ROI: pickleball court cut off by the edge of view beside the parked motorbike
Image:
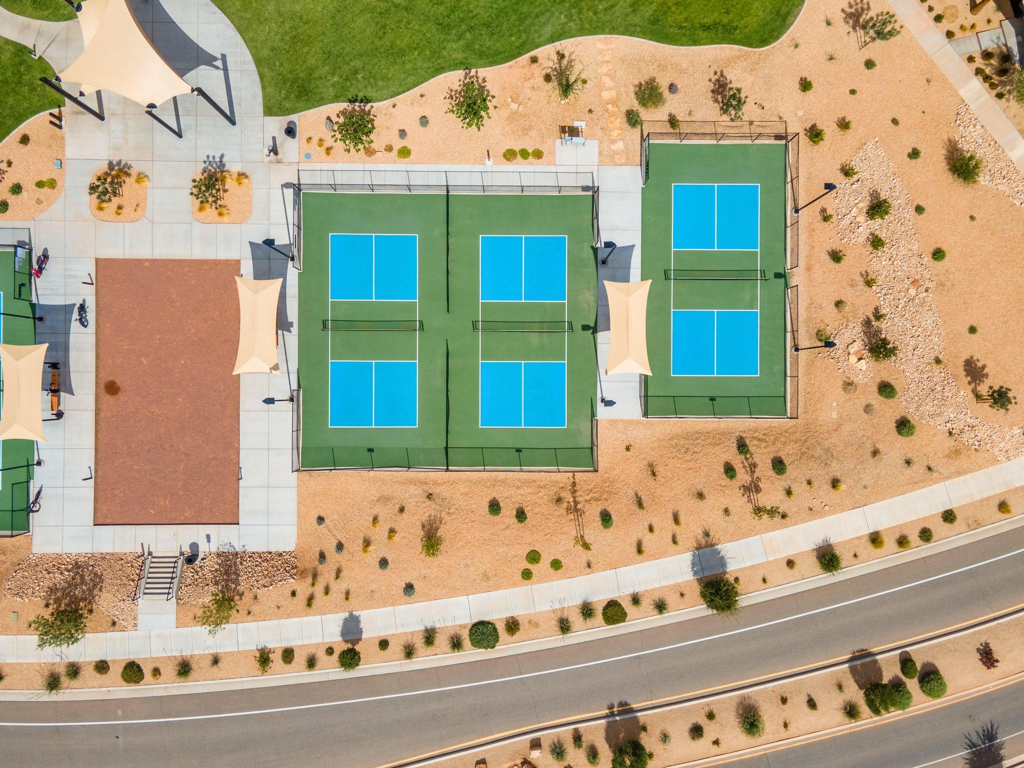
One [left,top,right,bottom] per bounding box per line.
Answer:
[0,249,36,535]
